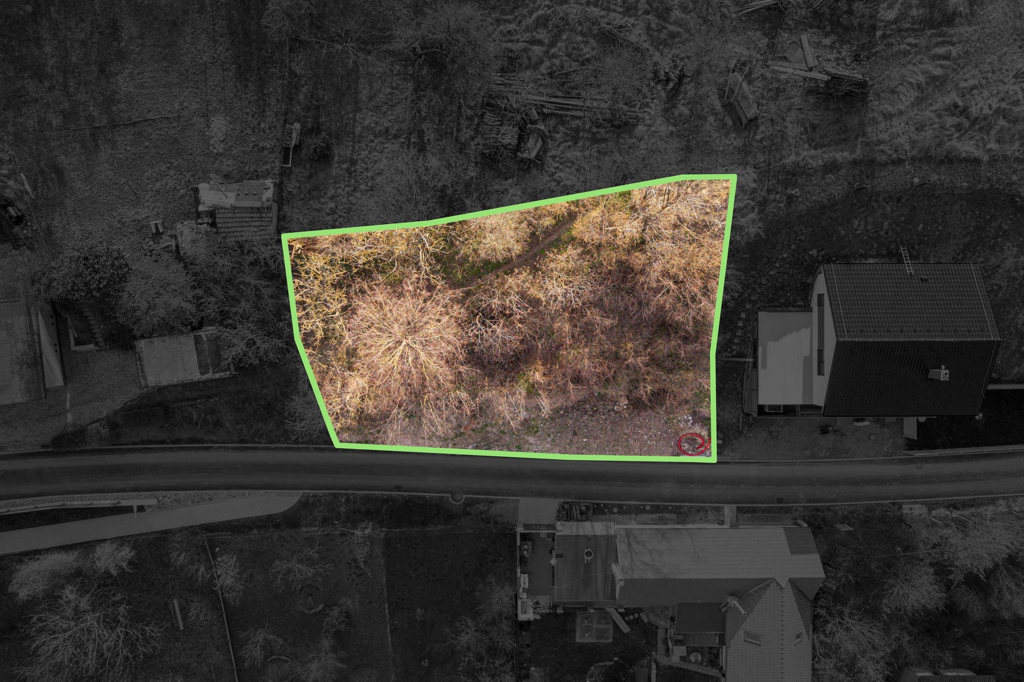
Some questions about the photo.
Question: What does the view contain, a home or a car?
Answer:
home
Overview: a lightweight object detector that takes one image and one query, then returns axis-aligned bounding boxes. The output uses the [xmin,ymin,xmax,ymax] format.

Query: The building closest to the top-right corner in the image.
[741,261,1013,418]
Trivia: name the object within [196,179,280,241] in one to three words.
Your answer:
shed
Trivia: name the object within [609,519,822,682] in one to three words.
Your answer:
house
